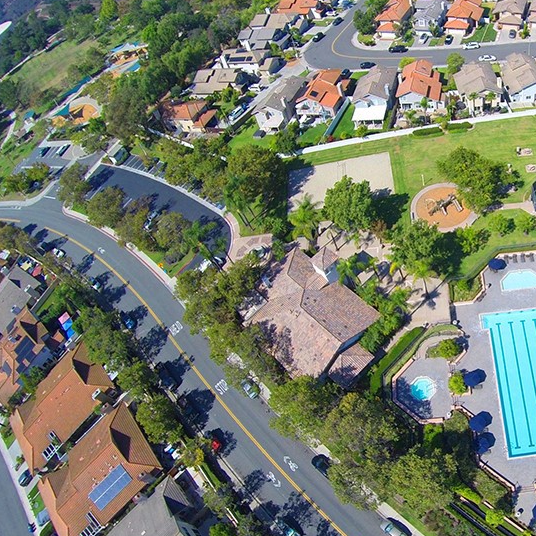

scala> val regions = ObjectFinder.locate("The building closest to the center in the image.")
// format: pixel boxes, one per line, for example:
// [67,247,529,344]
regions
[229,247,380,389]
